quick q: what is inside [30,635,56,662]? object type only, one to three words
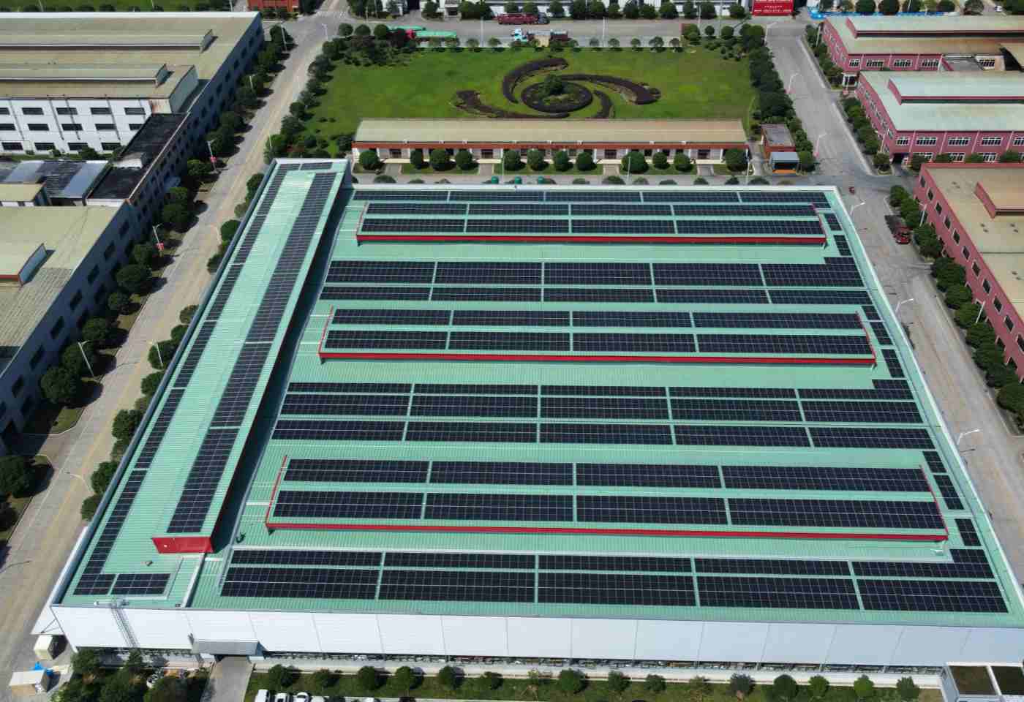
building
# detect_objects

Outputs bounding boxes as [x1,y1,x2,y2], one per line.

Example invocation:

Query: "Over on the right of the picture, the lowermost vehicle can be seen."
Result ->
[884,215,909,245]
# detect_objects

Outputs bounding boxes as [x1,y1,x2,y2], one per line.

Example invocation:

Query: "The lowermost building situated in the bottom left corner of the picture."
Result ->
[2,672,45,696]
